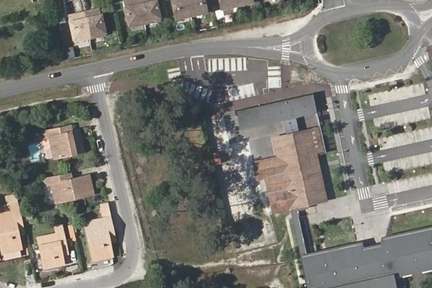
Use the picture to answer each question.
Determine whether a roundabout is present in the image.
Yes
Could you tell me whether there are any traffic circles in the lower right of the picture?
No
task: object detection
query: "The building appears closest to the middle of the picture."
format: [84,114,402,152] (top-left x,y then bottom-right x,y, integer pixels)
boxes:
[236,94,328,213]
